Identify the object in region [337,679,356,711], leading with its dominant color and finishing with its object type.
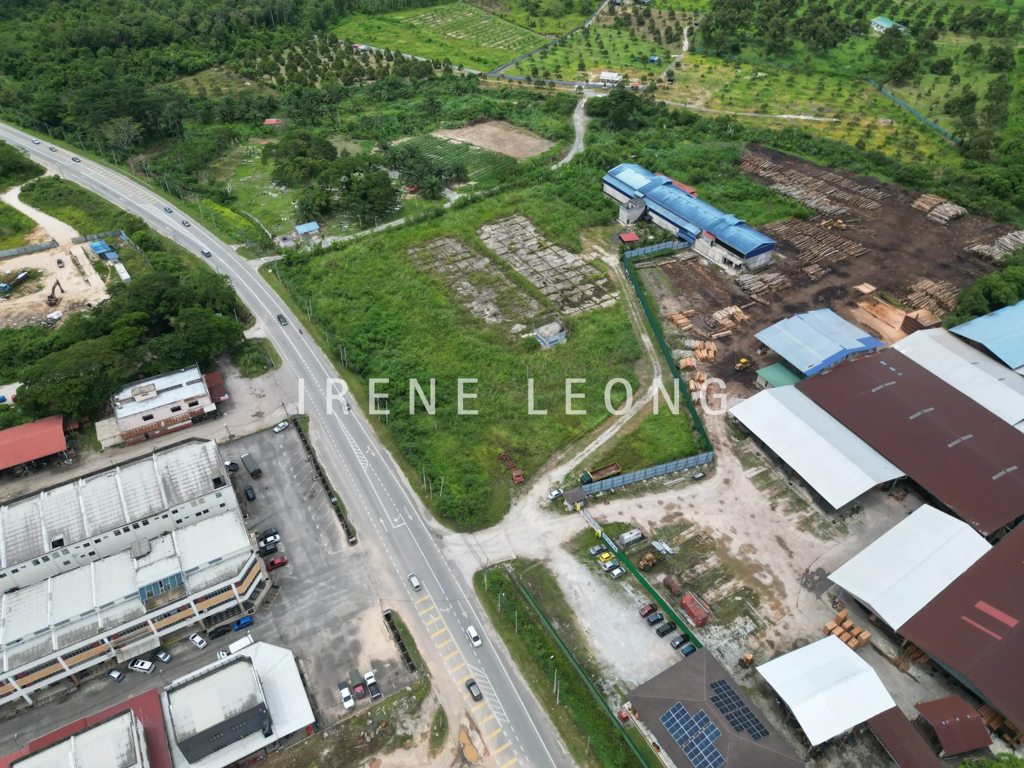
white vehicle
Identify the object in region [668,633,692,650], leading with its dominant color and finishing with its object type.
gray car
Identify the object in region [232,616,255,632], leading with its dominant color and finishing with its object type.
blue car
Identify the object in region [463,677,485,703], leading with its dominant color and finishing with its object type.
gray car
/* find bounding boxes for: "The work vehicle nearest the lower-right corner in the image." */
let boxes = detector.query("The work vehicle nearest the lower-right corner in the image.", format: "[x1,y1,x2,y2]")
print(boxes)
[727,647,759,675]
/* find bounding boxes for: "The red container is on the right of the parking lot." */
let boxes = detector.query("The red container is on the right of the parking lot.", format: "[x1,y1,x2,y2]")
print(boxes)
[679,593,708,627]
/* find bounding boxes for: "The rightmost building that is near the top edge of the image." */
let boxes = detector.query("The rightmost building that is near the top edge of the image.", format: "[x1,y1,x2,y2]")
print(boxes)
[867,17,905,33]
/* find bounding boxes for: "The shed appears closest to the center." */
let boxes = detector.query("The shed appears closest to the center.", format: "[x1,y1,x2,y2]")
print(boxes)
[533,321,567,347]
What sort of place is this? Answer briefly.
industrial area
